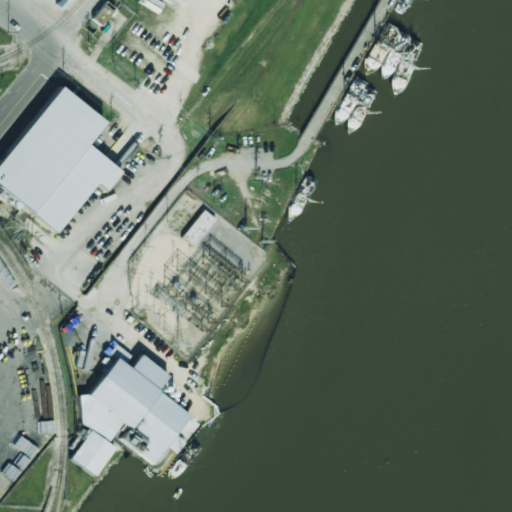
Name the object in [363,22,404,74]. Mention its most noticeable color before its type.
white boat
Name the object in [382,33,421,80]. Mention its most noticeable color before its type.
white boat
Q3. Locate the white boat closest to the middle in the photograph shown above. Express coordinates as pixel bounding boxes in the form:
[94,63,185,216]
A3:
[286,174,324,224]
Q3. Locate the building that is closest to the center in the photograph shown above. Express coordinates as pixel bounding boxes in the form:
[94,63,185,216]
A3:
[182,209,216,246]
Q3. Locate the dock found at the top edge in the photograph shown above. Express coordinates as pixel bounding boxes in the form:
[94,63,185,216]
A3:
[301,0,398,153]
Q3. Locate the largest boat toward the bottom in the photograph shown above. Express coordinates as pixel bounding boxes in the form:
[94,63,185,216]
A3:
[168,442,206,480]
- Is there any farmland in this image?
No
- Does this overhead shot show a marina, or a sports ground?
marina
